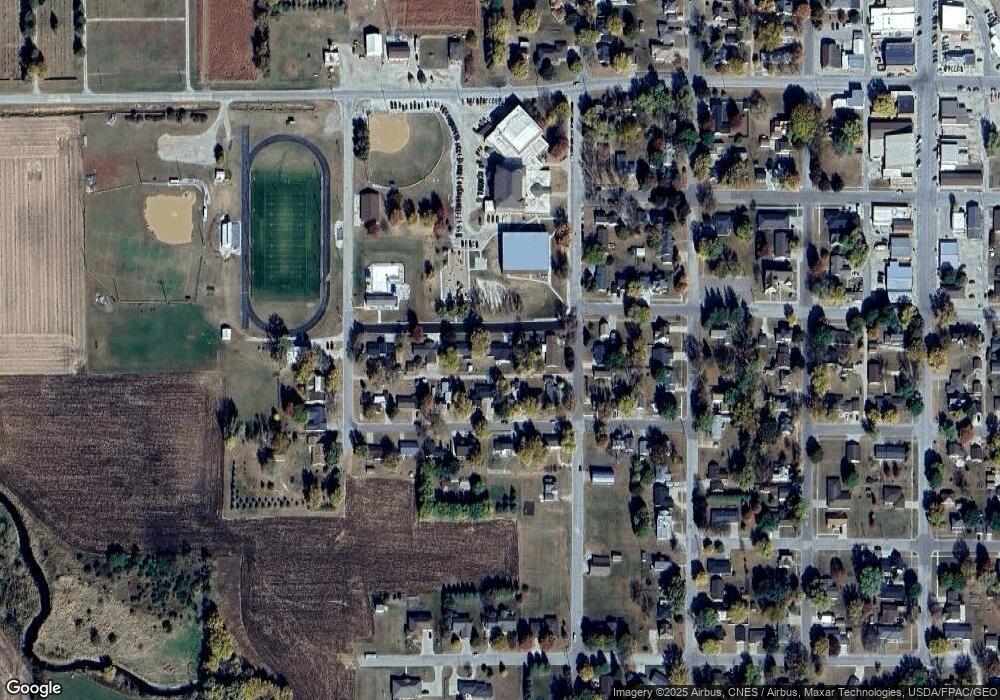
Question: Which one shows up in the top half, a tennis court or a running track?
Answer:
running track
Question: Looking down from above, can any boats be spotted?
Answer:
No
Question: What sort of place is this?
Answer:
residential area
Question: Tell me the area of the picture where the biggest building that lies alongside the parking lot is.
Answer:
top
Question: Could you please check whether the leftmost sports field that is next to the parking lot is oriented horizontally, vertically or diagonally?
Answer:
vertically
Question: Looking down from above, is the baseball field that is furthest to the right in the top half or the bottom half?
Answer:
top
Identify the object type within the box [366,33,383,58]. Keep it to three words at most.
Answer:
barn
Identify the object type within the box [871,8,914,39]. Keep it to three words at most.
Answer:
building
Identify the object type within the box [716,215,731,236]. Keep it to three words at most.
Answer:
house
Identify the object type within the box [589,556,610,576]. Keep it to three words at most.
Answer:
house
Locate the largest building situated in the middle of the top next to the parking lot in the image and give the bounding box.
[485,105,551,214]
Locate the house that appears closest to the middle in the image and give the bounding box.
[490,342,513,364]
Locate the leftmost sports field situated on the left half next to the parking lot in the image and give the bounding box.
[252,142,322,328]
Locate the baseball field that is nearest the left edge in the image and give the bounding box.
[145,191,195,244]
